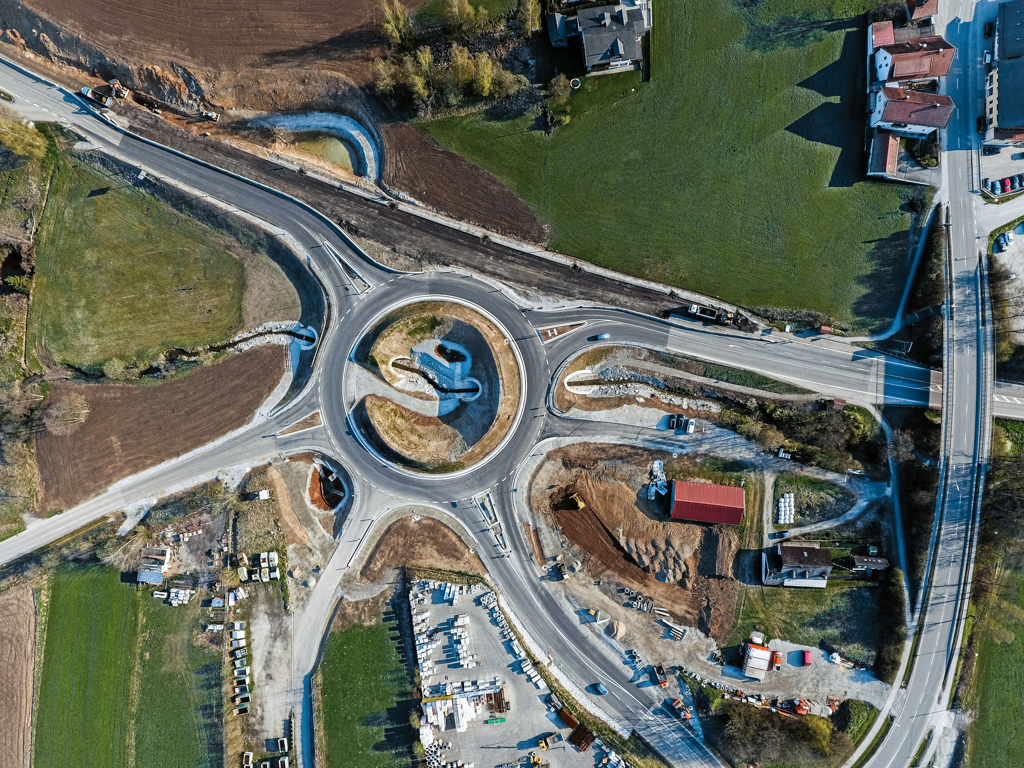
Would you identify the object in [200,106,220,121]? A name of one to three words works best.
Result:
work vehicle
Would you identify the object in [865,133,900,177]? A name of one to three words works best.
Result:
building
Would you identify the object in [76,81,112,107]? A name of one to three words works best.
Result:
truck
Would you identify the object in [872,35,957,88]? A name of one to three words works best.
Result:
house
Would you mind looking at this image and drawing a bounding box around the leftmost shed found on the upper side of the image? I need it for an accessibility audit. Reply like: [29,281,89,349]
[546,13,568,46]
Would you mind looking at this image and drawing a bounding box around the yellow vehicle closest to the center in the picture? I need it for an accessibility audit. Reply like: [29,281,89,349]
[568,490,586,511]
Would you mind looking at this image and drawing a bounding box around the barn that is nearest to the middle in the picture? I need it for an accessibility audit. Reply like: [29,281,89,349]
[669,479,744,525]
